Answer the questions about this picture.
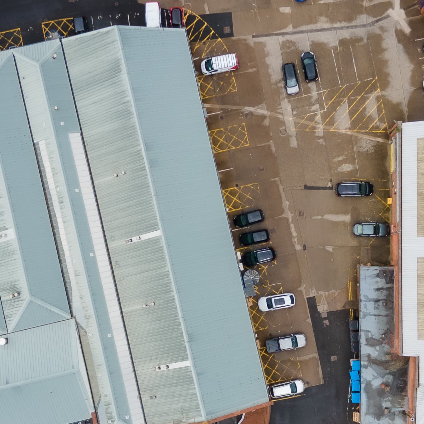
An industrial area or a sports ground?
industrial area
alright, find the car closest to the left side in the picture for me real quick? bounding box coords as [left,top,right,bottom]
[71,16,89,34]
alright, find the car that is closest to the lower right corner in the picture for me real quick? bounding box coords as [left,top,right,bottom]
[269,379,305,398]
